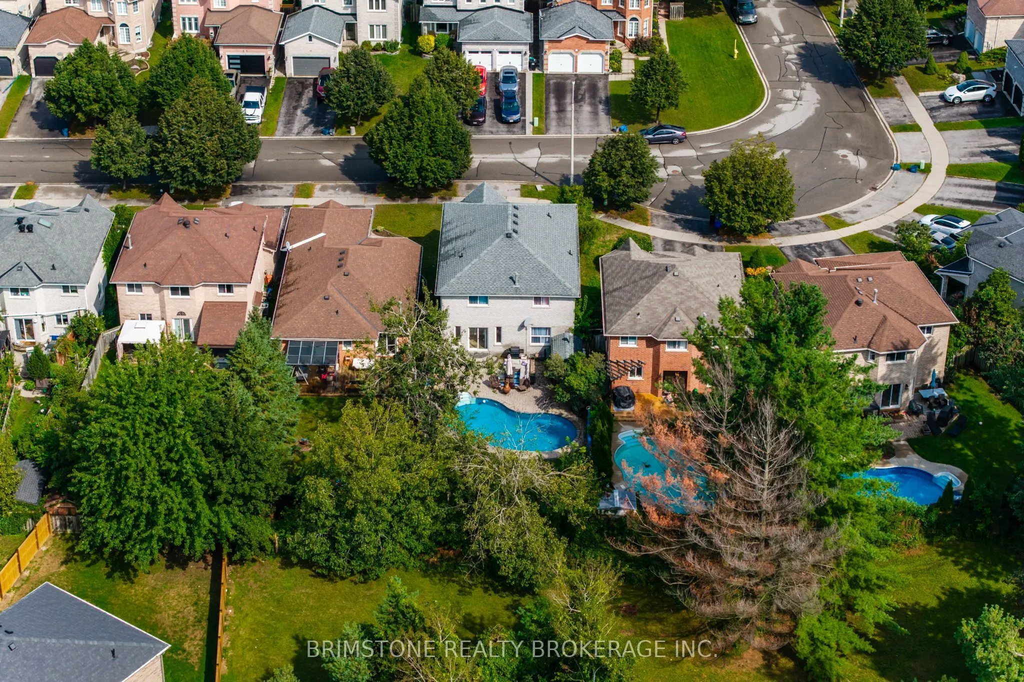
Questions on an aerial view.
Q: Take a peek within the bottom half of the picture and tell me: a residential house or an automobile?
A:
residential house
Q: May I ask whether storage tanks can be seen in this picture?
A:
No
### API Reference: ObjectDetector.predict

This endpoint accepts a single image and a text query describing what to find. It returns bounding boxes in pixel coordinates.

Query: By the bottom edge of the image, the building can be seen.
[0,575,173,682]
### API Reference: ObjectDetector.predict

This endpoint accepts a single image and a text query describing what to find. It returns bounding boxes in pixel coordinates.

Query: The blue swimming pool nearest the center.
[451,396,580,453]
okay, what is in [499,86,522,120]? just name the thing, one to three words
car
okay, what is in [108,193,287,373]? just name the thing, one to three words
house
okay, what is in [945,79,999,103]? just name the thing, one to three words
car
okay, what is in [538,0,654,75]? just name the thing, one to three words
house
